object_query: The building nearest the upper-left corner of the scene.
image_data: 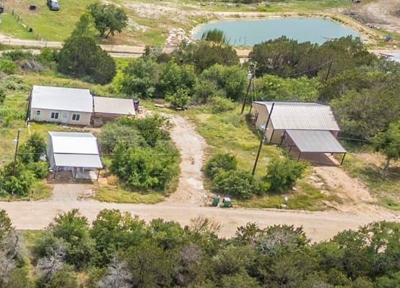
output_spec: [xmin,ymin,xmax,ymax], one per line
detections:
[26,82,92,126]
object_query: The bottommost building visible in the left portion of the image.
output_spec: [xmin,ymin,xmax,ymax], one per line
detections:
[45,133,104,182]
